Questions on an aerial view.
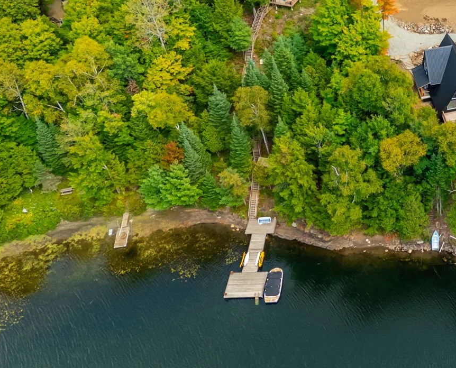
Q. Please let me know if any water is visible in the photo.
Yes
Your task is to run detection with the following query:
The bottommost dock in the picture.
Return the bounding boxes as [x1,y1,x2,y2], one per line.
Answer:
[223,272,269,299]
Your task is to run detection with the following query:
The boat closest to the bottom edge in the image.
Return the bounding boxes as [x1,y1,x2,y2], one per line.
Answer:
[262,265,282,302]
